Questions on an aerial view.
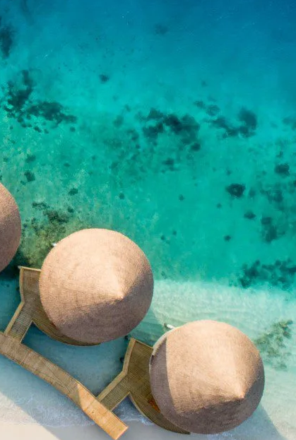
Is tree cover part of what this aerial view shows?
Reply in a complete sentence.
No, the scene doesn't show any tree cover.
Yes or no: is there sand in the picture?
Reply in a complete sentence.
Yes, there is sand in the image.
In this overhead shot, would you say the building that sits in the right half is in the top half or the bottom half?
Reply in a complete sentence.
The building that sits in the right half is in the bottom half of the image.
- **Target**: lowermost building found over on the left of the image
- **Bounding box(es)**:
[4,228,153,347]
